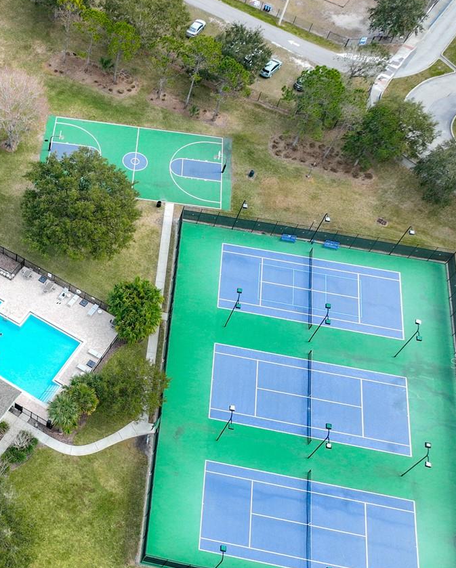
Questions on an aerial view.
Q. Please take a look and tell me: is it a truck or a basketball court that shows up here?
basketball court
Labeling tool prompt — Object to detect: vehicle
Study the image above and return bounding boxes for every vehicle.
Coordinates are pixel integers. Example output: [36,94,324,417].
[260,56,284,75]
[185,17,208,35]
[294,67,318,87]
